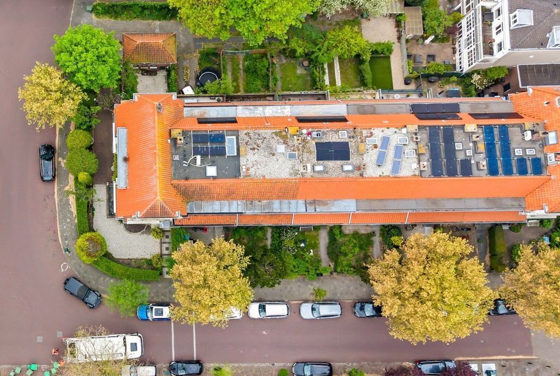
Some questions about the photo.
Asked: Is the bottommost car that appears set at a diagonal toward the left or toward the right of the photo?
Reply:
left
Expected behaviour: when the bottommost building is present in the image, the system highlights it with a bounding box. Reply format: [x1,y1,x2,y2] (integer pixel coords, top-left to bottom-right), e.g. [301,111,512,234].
[115,89,560,231]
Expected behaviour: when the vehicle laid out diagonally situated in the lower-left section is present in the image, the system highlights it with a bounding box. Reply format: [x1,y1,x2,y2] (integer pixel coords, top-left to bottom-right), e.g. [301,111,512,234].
[63,274,104,312]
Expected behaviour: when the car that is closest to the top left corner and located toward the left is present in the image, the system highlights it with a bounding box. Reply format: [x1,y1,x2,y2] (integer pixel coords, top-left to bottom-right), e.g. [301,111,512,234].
[37,145,56,183]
